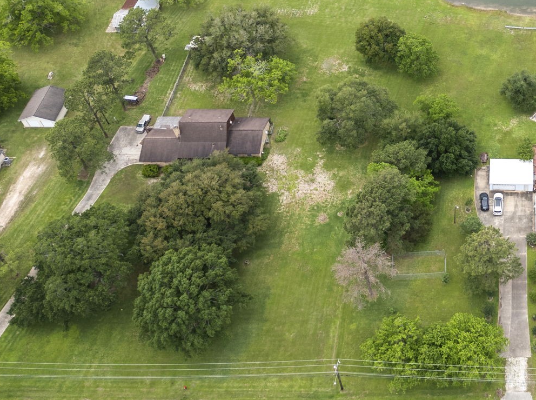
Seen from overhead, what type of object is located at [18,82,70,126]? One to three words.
building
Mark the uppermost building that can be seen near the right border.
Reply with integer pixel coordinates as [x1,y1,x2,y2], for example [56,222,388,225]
[490,159,533,191]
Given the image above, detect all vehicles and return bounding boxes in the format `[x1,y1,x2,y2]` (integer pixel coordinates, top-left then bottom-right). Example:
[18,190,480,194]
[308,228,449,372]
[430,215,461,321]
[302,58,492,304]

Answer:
[131,110,153,135]
[479,192,490,211]
[493,194,504,214]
